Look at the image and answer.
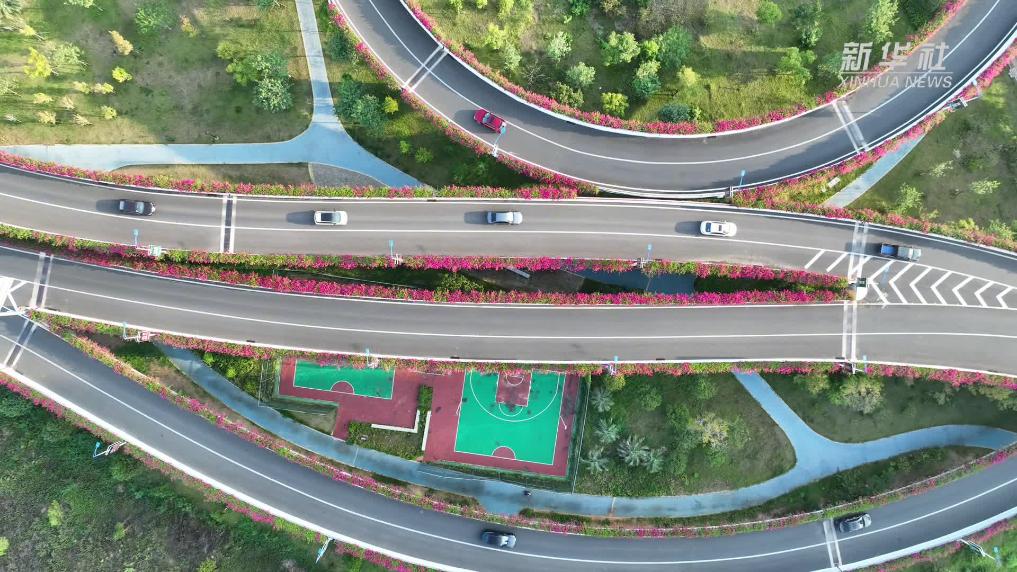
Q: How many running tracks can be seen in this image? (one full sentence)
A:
Not a single running track can be seen.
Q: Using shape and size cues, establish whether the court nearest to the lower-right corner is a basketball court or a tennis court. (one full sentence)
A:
I'd identify the court nearest to the lower-right corner as a basketball court.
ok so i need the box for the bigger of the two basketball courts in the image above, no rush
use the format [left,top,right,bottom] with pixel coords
[454,371,566,465]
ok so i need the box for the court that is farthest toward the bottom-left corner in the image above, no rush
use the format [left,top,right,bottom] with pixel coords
[293,360,396,399]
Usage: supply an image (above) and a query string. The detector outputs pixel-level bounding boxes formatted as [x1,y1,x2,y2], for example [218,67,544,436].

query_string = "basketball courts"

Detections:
[454,371,566,465]
[293,360,396,399]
